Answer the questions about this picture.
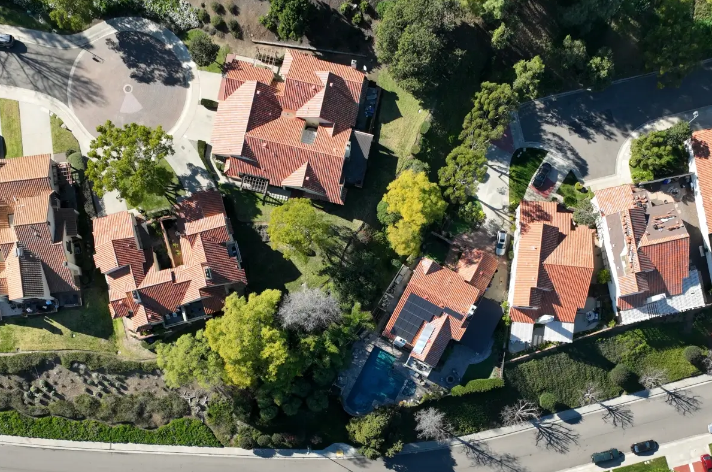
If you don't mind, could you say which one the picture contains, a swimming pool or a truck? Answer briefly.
swimming pool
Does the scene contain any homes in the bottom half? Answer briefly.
Yes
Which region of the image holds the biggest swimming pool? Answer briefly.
bottom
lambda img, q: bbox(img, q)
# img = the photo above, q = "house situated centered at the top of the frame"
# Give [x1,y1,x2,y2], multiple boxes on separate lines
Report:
[211,48,381,206]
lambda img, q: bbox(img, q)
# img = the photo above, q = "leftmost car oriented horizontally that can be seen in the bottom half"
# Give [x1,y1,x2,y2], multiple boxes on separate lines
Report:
[591,448,620,464]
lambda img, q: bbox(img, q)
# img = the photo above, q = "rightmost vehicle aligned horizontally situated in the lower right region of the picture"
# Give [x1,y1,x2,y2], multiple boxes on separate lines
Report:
[630,439,657,454]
